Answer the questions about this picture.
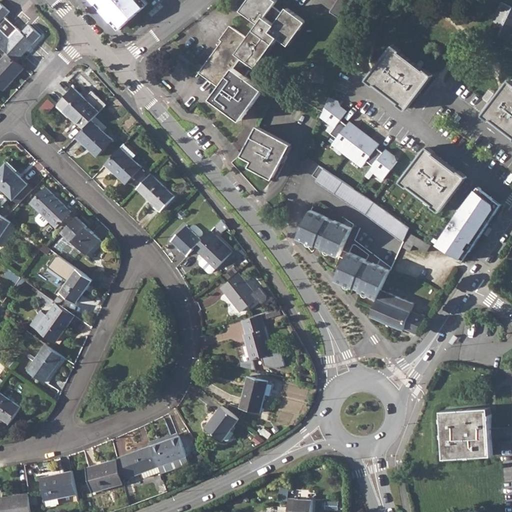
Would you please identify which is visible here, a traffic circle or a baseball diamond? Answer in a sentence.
I can see a traffic circle in this picture.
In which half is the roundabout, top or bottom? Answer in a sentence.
You can find the roundabout in the bottom half.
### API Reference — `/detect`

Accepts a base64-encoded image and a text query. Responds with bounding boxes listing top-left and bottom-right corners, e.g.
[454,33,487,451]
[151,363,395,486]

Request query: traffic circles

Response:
[299,352,406,504]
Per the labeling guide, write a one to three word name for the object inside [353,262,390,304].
house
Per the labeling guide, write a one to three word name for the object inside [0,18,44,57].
house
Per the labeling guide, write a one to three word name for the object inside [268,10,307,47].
building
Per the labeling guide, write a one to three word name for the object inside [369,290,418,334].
building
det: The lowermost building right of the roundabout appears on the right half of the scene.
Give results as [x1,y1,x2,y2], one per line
[437,408,493,461]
